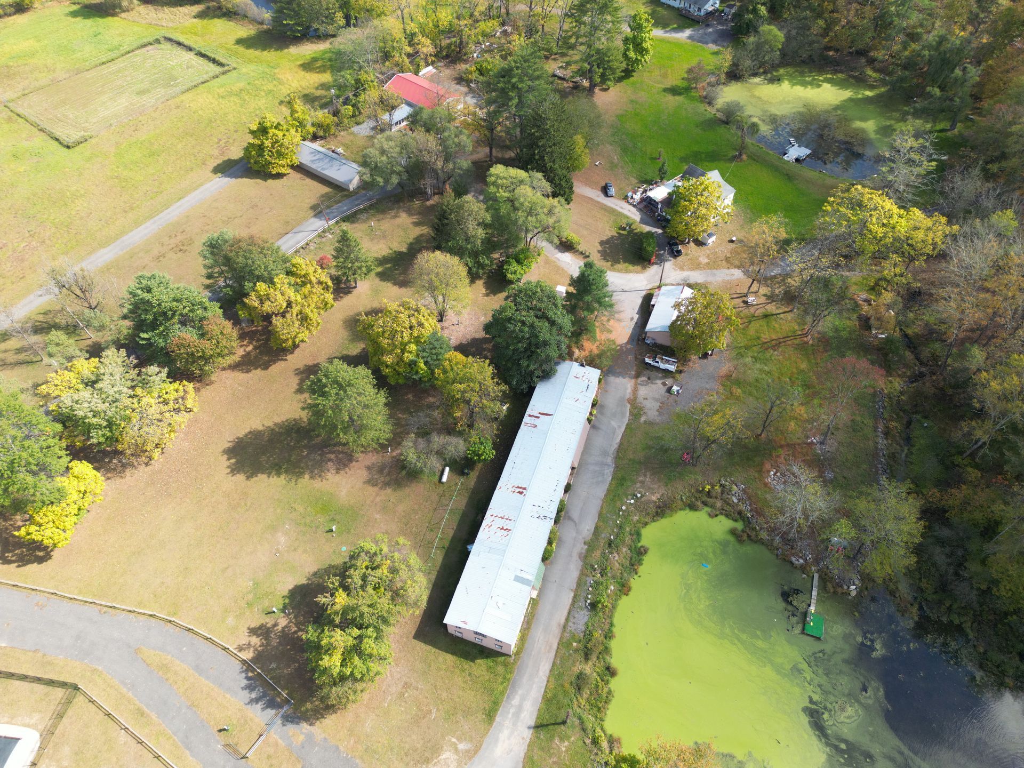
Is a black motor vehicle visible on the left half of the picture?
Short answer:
No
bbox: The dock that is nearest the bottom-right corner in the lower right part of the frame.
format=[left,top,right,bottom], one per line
[804,573,826,640]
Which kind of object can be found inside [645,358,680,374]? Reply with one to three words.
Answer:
vehicle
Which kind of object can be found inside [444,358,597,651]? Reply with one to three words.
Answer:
building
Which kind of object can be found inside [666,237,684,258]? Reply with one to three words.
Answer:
vehicle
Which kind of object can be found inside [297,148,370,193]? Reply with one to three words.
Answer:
shed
